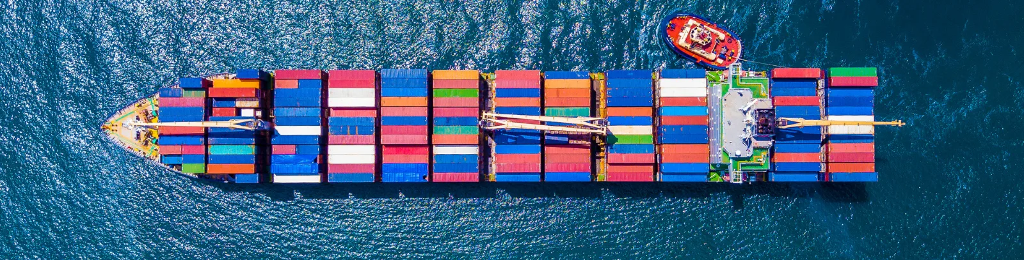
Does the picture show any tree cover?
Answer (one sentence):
No, there is no tree cover in the image.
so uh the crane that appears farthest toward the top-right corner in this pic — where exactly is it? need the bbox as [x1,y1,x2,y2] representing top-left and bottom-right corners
[774,114,907,129]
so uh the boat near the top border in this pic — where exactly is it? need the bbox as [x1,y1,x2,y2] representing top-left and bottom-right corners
[661,12,746,70]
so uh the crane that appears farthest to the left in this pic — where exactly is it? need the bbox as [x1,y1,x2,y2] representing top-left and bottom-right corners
[131,118,283,131]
